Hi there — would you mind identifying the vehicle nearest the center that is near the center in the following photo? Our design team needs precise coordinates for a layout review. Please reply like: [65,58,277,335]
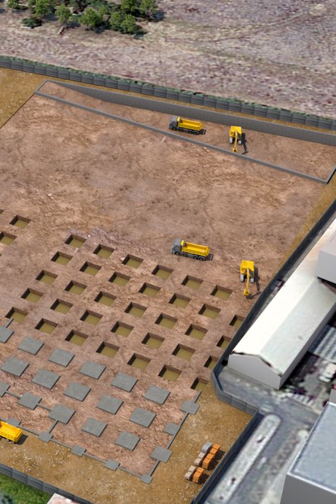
[173,238,214,262]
